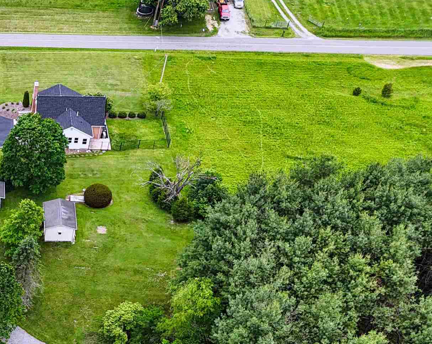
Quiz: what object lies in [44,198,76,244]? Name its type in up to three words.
shed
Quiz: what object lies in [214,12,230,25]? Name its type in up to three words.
vehicle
